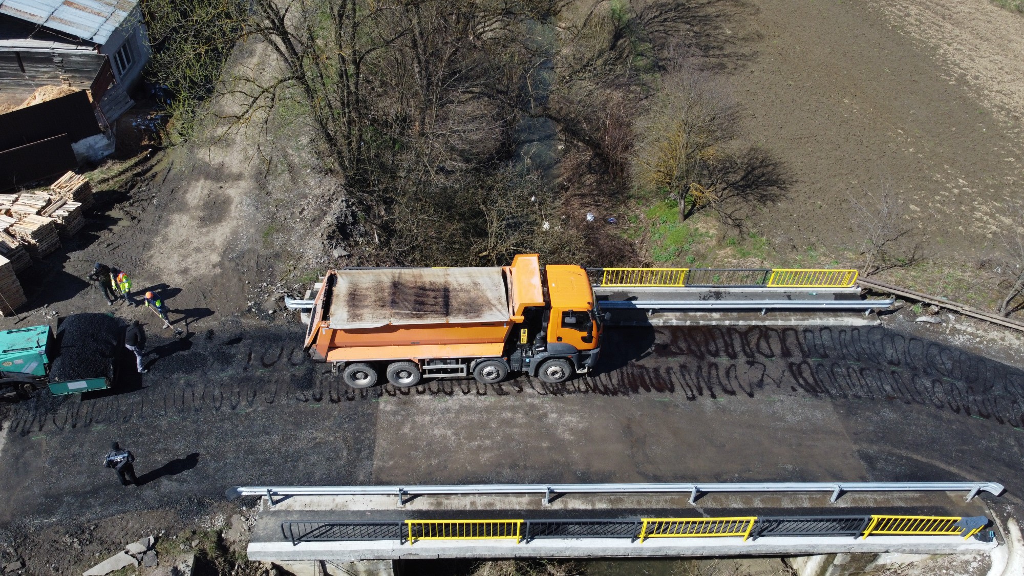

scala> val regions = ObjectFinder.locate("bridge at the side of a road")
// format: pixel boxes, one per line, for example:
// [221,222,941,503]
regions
[245,486,1015,576]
